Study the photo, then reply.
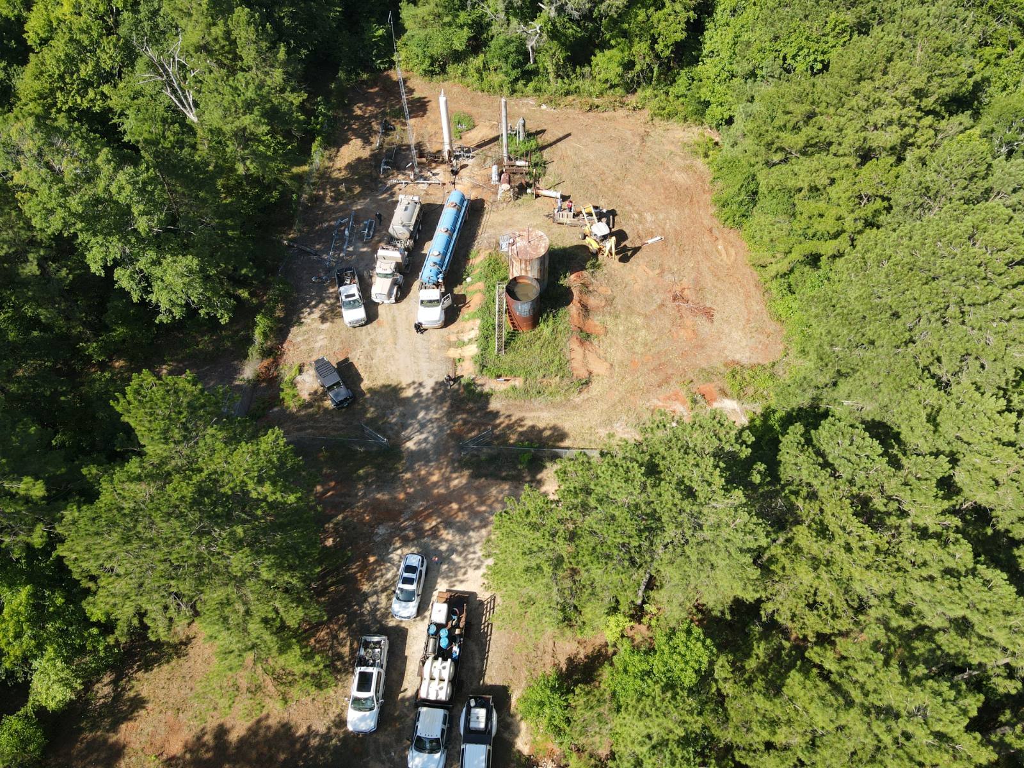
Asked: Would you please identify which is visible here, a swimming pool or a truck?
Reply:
truck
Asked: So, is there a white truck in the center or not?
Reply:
Yes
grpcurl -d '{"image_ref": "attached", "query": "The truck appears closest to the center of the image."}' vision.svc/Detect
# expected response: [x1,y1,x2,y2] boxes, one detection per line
[415,276,452,332]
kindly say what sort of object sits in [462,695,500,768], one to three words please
truck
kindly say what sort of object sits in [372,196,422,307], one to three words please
truck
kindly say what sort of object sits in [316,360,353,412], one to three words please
car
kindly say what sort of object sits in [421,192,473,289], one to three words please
trailer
